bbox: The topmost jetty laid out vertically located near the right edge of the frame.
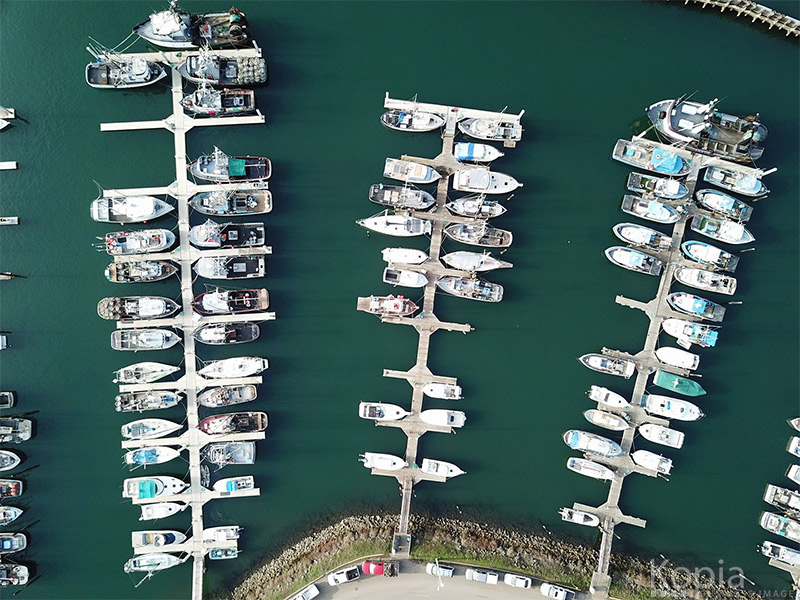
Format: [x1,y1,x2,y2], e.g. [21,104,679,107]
[573,134,764,531]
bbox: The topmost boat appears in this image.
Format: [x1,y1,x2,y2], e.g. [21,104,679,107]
[129,0,252,49]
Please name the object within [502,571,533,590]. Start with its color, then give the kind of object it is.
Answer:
white car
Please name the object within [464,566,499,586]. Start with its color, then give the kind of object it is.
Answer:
white vehicle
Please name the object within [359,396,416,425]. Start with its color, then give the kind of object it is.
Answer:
white boat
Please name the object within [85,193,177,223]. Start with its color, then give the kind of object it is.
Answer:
white boat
